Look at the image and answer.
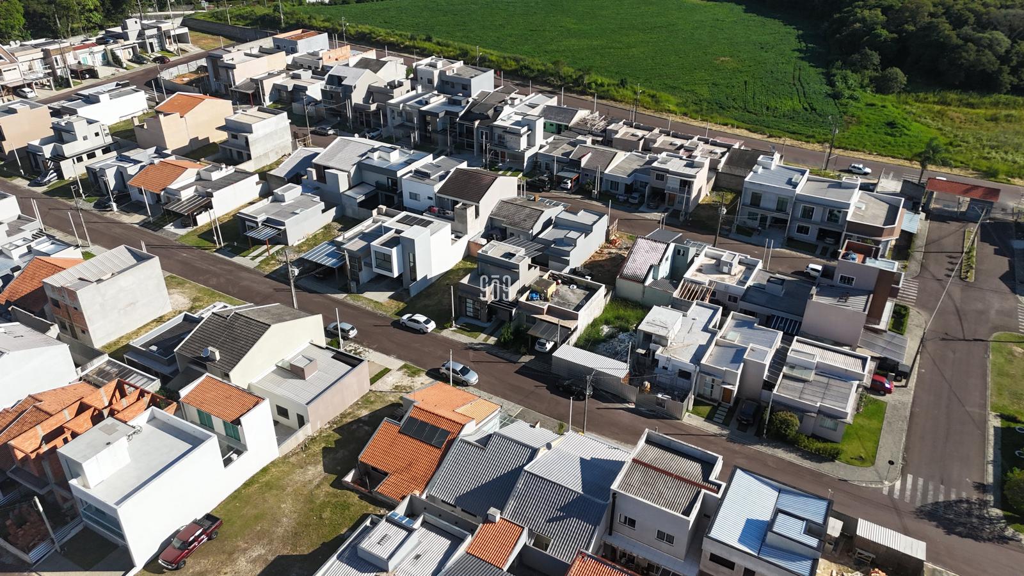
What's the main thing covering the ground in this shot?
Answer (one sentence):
For the most part, this view shows buildings.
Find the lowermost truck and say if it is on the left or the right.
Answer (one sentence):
You can find the lowermost truck on the left side of the picture.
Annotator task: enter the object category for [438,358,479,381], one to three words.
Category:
car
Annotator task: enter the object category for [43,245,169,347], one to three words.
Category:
house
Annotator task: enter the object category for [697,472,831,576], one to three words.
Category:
house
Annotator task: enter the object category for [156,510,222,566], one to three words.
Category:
truck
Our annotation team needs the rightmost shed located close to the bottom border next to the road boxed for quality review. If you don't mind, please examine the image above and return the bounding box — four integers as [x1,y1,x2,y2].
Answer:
[851,519,928,576]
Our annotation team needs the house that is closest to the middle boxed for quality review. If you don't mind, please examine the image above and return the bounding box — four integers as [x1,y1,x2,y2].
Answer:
[460,241,548,318]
